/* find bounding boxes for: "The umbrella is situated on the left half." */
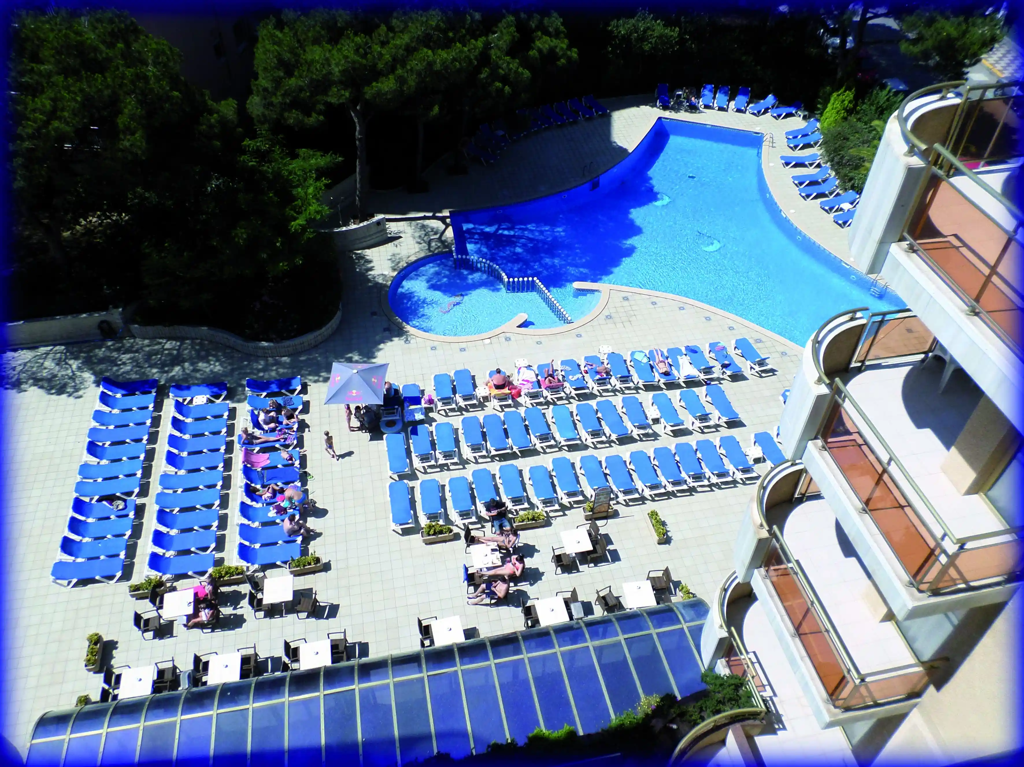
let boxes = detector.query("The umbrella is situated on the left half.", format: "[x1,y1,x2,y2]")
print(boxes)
[323,362,390,416]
